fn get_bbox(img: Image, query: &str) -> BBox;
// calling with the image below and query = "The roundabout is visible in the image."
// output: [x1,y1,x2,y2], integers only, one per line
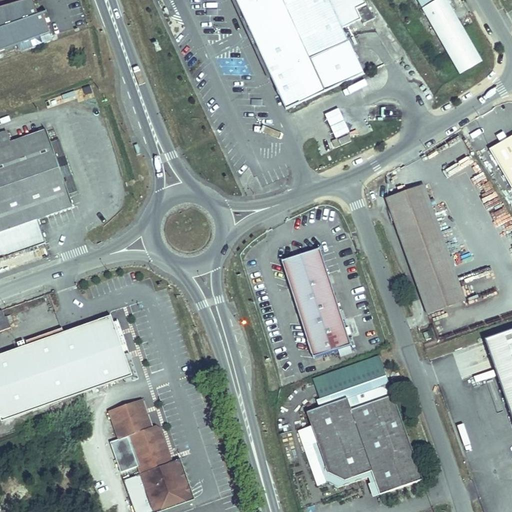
[145,186,230,272]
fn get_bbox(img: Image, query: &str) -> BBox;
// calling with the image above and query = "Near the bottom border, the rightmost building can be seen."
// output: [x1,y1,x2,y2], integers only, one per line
[352,394,422,495]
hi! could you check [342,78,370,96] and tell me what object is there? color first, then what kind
white vehicle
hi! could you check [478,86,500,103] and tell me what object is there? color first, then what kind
white vehicle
